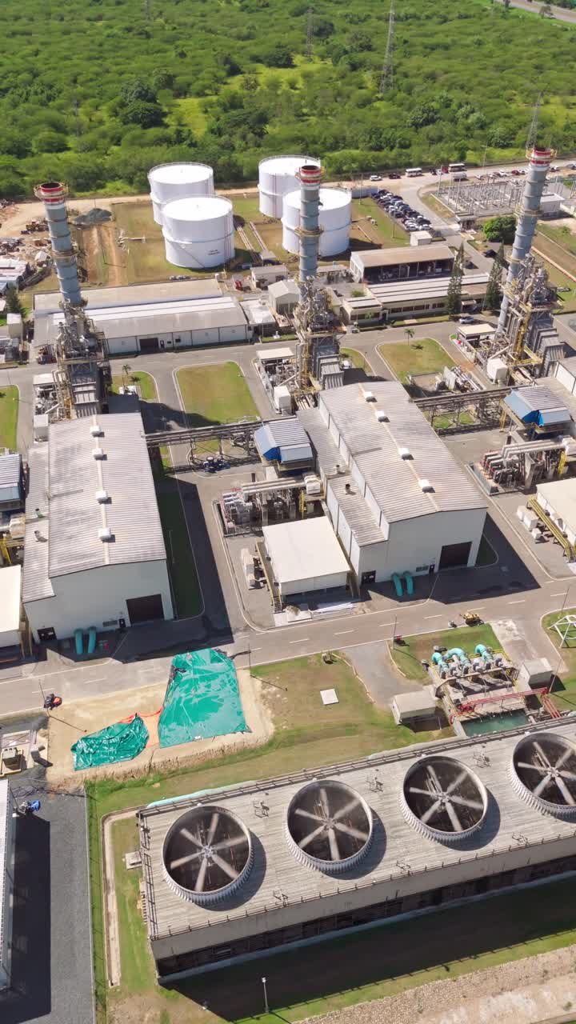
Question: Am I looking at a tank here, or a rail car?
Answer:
tank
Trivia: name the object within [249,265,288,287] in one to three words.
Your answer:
shed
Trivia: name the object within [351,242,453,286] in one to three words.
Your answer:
building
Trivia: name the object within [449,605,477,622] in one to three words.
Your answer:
work vehicle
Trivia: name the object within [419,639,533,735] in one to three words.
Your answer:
building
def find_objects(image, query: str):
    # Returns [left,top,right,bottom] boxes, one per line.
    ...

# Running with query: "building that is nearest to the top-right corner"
[536,193,566,214]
